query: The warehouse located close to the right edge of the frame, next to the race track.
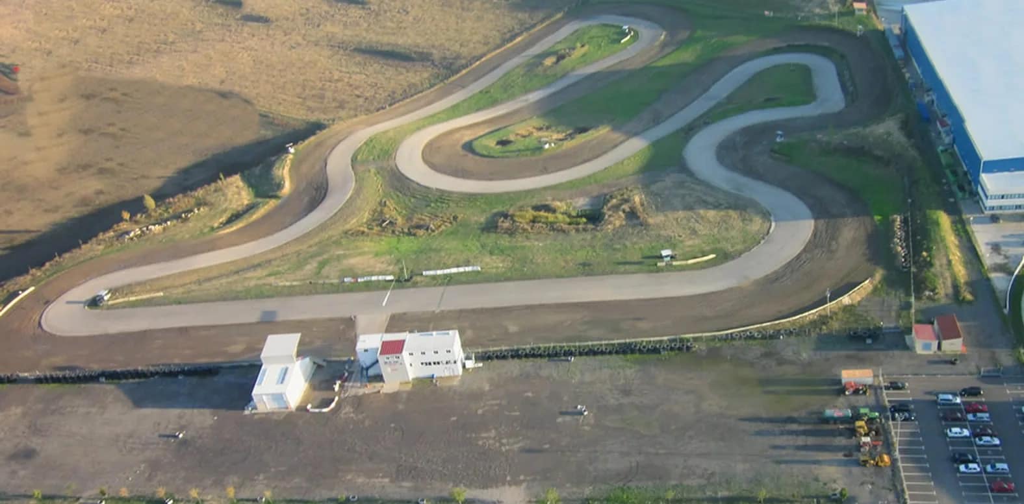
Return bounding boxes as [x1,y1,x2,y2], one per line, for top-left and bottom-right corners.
[906,0,1024,202]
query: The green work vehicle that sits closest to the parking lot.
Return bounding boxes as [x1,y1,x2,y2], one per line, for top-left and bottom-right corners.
[856,406,881,424]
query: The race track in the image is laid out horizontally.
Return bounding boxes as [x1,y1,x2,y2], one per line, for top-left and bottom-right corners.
[39,15,845,336]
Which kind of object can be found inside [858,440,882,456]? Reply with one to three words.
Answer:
work vehicle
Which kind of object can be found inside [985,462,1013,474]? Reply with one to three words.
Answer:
vehicle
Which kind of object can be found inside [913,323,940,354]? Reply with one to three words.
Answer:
building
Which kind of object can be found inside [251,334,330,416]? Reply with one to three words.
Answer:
house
